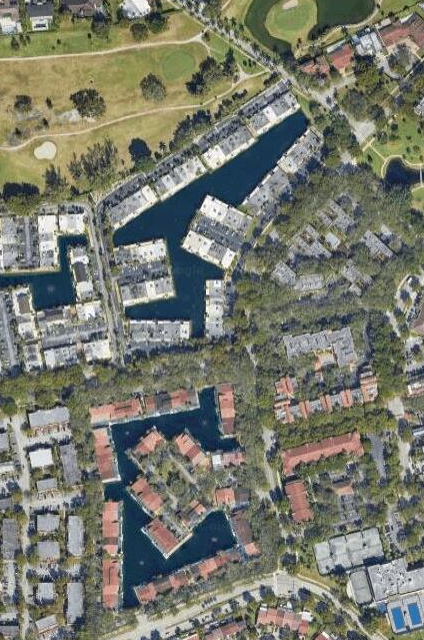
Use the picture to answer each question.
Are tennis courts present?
Yes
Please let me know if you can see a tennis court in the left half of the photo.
No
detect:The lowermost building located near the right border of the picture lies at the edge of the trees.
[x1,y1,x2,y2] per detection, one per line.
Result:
[367,557,424,600]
